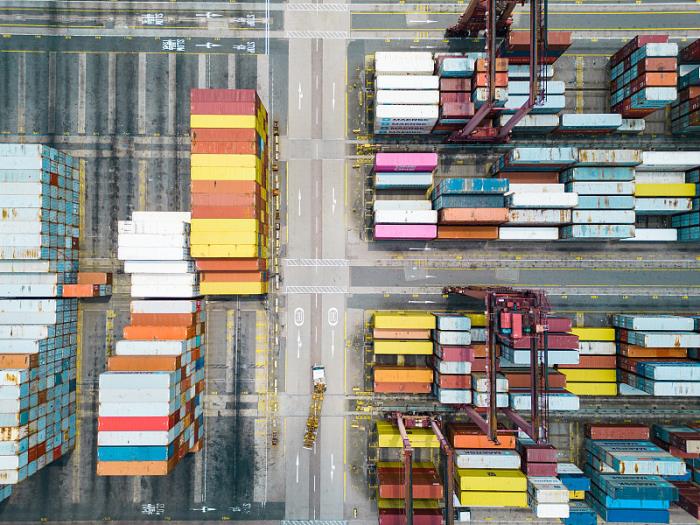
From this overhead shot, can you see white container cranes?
No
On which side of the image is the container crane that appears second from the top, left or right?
right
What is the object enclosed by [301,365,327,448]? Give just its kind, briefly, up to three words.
truck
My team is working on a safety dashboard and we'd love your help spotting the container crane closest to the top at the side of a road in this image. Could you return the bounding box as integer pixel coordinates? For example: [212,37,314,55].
[441,0,552,146]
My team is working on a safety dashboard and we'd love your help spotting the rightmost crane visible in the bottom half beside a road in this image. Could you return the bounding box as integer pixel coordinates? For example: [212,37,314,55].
[440,283,550,445]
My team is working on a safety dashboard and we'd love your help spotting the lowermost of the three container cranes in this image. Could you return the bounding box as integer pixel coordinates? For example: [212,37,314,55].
[373,410,453,525]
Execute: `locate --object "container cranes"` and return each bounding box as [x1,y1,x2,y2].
[373,410,453,525]
[441,0,552,146]
[440,283,550,445]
